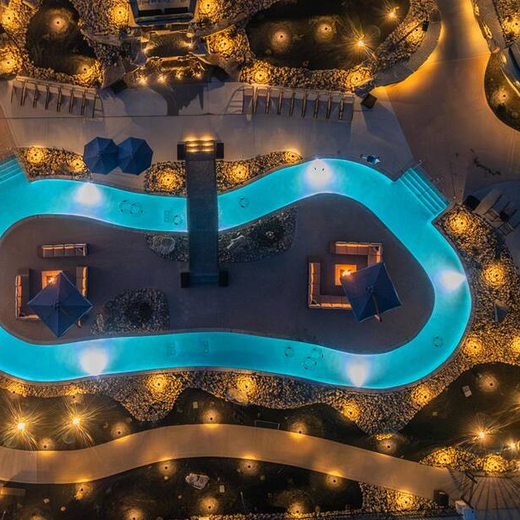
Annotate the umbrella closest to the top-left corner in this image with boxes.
[81,136,118,178]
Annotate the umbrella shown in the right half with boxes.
[342,263,402,331]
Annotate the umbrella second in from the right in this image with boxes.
[115,134,158,177]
